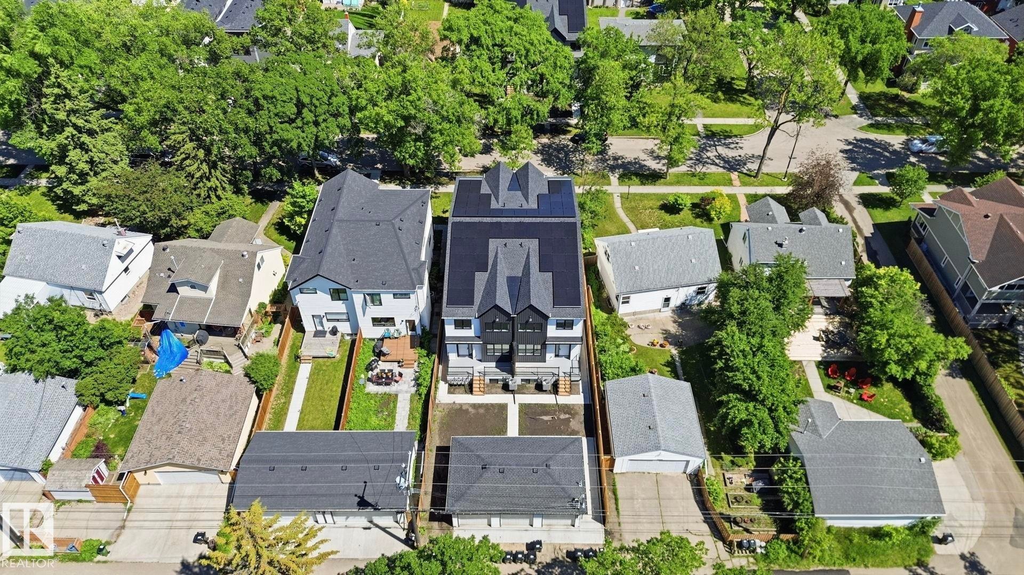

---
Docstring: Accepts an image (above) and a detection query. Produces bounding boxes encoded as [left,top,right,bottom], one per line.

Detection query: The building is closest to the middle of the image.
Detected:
[441,158,586,404]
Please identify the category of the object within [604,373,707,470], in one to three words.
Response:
building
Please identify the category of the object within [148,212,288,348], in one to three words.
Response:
house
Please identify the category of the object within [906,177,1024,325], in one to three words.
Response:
building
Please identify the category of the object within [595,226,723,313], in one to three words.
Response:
house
